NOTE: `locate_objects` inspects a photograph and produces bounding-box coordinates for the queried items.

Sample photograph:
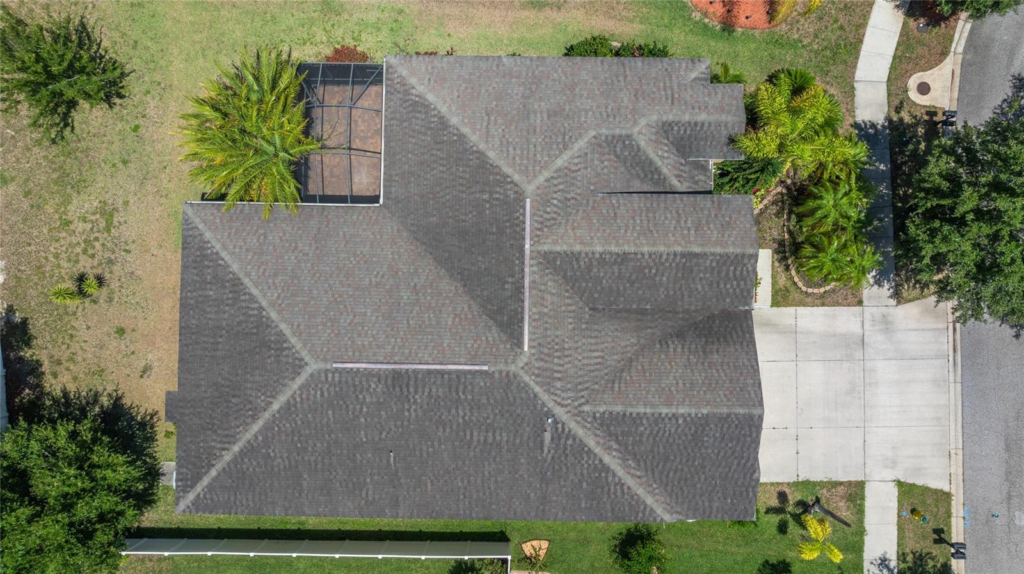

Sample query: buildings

[164,53,765,523]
